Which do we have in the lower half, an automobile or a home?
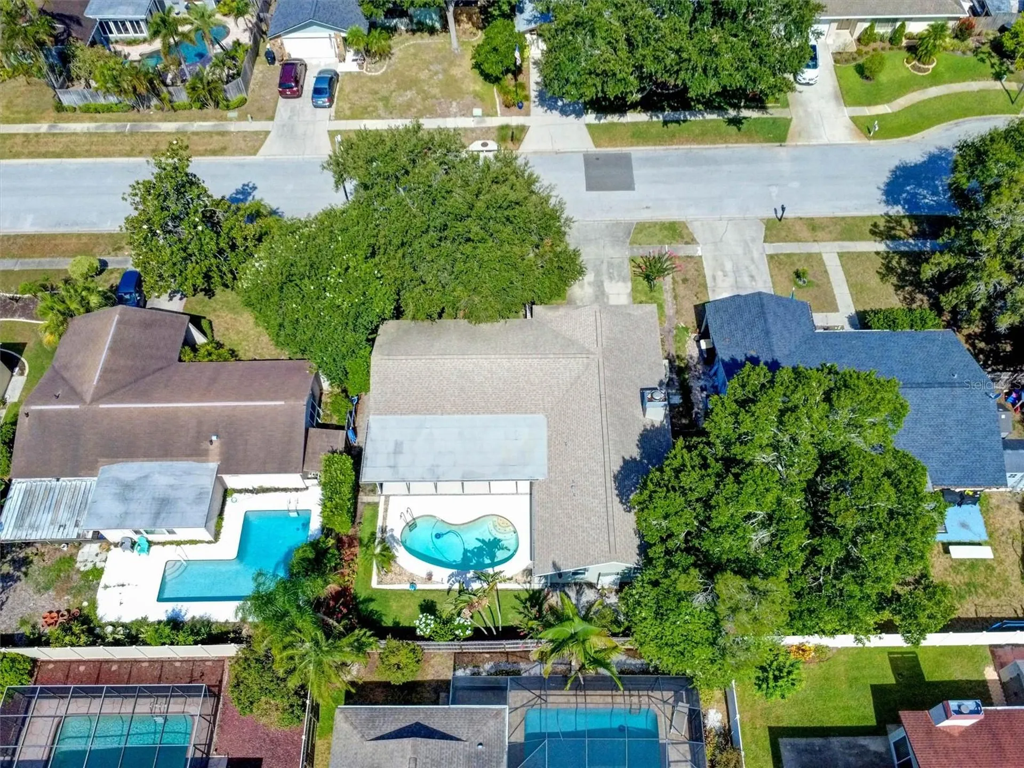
home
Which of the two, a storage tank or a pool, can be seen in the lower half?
pool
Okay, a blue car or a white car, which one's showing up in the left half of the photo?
blue car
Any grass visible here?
Yes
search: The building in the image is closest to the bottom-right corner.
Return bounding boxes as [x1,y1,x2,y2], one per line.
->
[894,699,1024,768]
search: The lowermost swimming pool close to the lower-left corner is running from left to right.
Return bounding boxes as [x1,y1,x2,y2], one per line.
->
[44,701,197,768]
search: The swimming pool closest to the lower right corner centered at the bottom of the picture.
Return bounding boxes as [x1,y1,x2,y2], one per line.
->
[518,695,667,768]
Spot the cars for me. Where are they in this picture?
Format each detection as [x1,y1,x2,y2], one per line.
[278,61,307,95]
[311,71,339,105]
[789,42,819,81]
[115,247,152,302]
